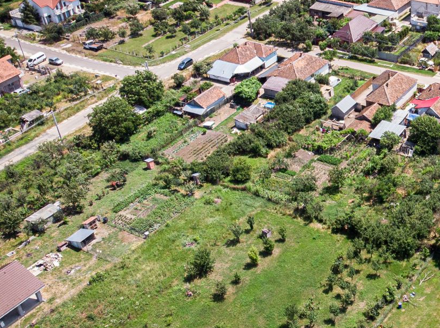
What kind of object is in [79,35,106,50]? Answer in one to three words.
vehicle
